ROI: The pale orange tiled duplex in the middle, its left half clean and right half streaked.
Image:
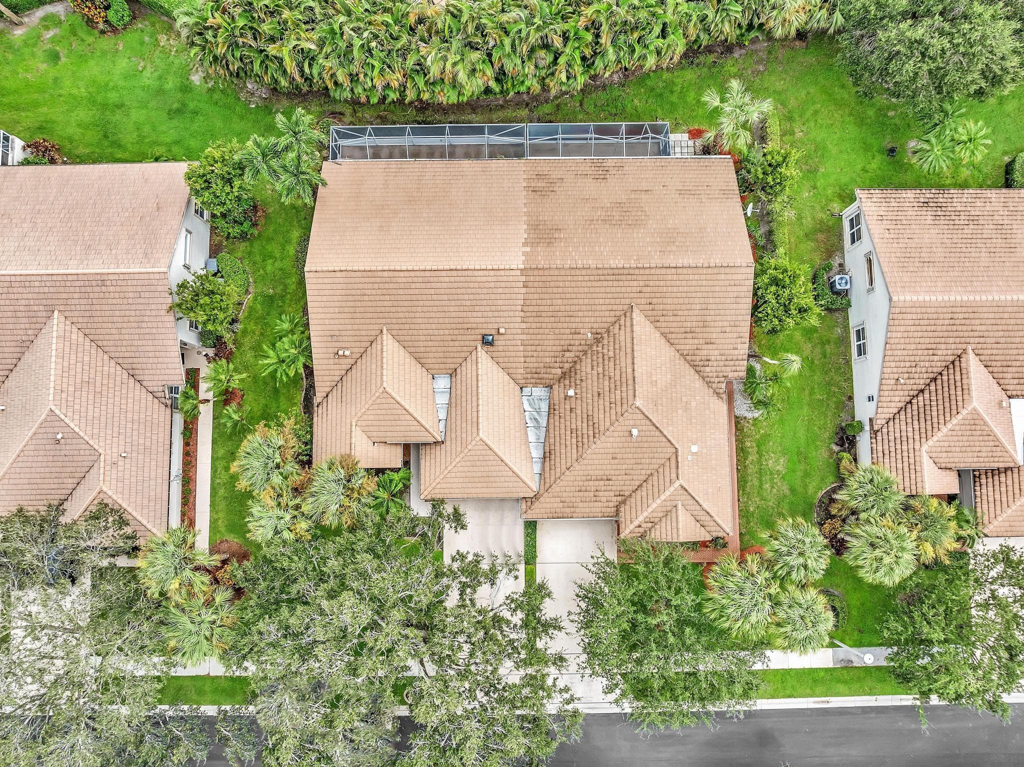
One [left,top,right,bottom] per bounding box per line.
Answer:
[303,157,757,542]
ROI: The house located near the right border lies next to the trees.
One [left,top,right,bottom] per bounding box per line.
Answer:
[841,183,1024,526]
